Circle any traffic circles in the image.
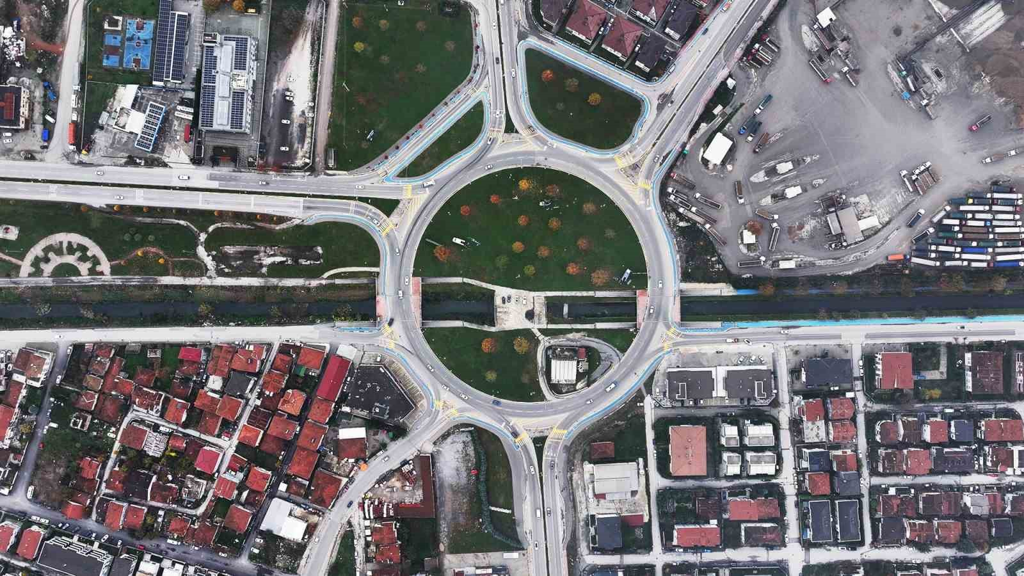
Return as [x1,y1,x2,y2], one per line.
[394,148,667,421]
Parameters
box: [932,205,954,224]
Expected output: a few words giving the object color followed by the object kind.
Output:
white vehicle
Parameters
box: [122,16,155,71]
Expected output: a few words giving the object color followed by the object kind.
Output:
blue basketball court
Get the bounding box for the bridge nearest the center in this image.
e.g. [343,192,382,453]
[495,287,546,331]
